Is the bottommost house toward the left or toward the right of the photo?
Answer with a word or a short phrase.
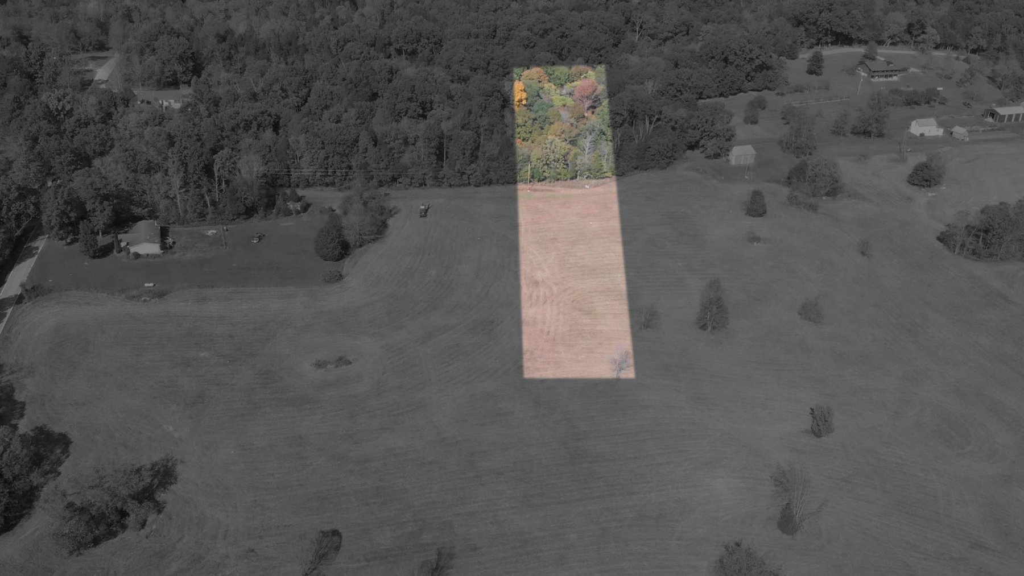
left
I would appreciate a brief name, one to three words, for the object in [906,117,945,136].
house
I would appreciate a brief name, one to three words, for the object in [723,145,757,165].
building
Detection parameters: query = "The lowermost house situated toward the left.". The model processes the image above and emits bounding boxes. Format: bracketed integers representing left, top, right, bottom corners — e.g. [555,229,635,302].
[101,215,163,256]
